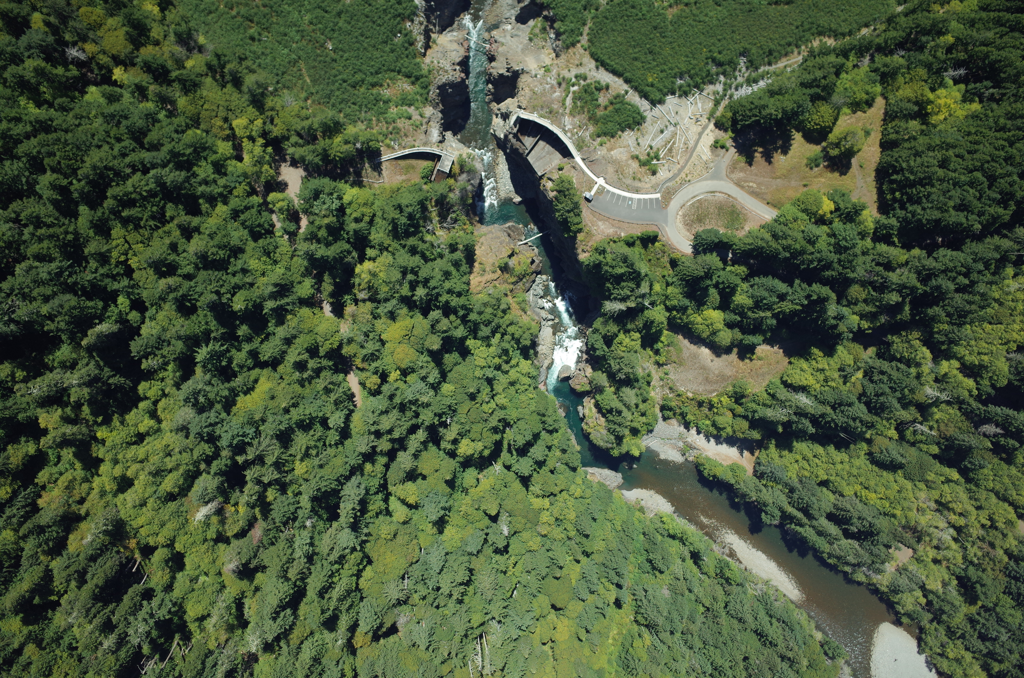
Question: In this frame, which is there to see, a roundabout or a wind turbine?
roundabout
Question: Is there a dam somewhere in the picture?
Yes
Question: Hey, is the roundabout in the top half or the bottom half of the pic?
top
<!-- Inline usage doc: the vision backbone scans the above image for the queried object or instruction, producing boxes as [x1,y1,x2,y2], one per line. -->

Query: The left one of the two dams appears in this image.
[384,146,455,184]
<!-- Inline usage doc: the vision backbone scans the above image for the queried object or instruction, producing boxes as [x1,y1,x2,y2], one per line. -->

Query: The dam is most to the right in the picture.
[506,109,584,181]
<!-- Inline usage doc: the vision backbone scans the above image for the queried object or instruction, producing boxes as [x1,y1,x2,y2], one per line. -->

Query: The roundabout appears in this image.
[667,179,777,259]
